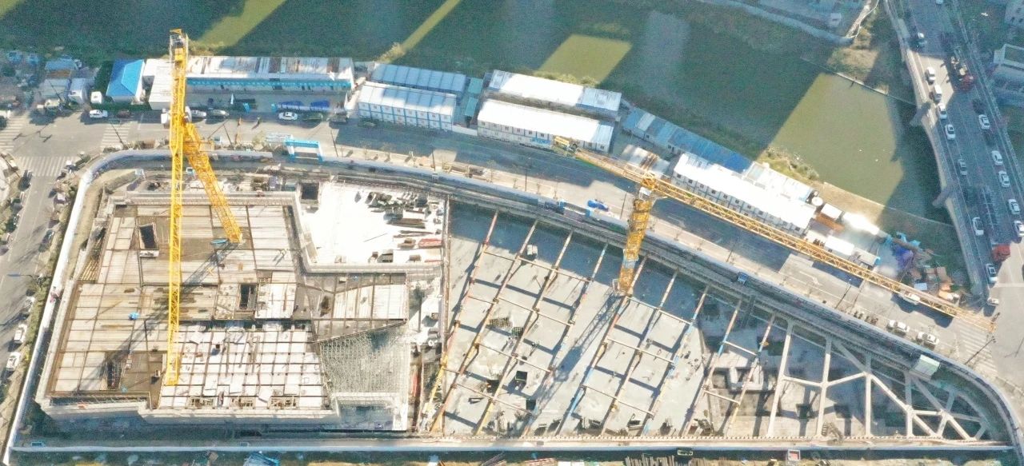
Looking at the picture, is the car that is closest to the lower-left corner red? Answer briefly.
No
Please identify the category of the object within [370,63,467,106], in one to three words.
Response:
building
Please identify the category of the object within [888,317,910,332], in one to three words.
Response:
car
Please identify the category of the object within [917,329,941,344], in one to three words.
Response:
car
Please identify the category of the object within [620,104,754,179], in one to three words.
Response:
shed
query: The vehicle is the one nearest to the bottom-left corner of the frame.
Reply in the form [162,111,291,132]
[0,349,22,370]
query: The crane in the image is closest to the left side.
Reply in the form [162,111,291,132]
[162,32,243,389]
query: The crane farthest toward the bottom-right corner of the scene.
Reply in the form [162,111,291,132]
[554,135,997,332]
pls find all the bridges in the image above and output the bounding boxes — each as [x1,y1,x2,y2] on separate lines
[885,0,1024,331]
